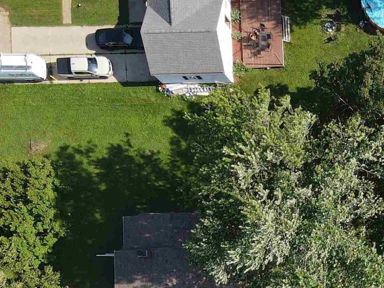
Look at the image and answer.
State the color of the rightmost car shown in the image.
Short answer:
black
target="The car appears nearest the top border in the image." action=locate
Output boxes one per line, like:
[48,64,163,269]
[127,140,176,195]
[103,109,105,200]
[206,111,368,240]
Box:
[98,24,145,50]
